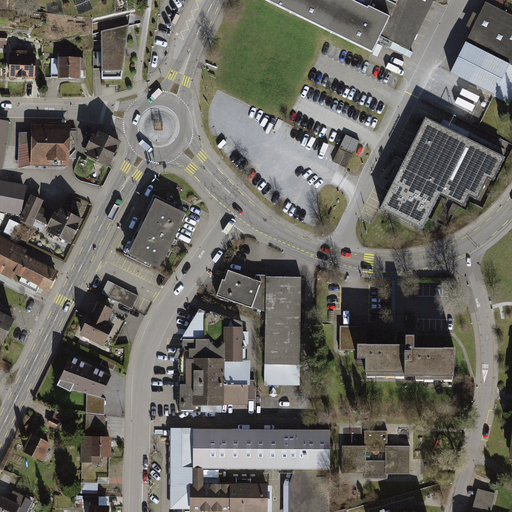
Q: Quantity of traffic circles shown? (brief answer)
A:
one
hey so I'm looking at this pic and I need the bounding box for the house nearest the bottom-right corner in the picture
[473,488,495,510]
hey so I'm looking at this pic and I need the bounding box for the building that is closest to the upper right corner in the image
[467,1,512,66]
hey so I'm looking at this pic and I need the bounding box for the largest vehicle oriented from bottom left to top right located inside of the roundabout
[146,87,164,105]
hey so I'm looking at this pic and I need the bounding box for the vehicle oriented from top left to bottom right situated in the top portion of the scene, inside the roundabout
[139,140,154,154]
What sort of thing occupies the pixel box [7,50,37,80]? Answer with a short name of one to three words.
house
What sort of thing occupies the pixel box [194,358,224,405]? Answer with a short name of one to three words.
building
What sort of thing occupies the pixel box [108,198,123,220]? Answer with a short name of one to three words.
vehicle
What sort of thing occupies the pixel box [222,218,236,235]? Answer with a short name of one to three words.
vehicle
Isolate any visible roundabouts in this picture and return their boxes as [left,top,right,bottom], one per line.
[119,86,198,166]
